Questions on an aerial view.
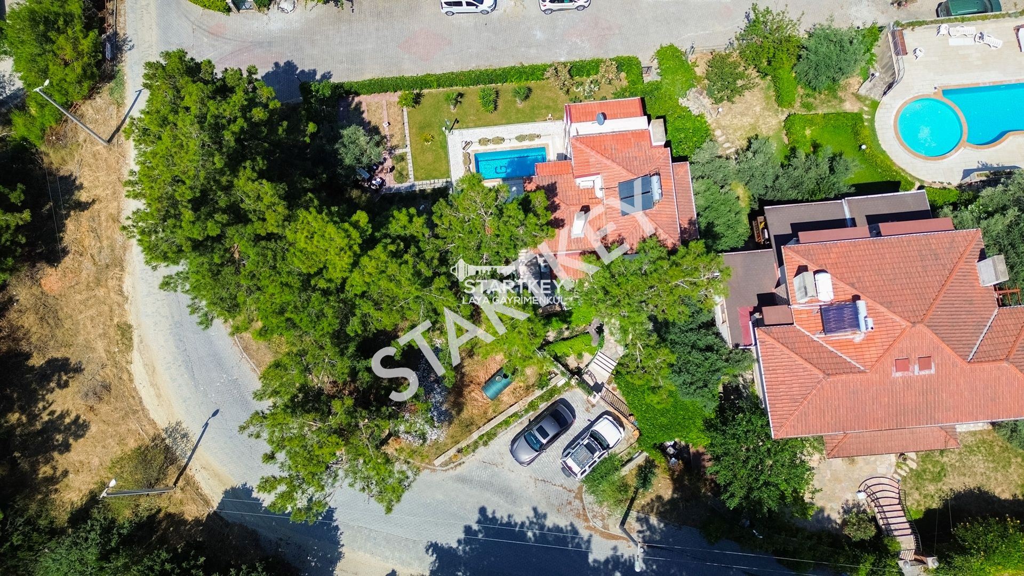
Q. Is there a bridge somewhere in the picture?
No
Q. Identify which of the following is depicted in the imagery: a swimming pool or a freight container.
swimming pool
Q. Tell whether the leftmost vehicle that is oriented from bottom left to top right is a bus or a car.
car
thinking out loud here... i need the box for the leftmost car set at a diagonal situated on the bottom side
[509,396,578,468]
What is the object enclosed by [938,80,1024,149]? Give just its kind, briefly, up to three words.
swimming pool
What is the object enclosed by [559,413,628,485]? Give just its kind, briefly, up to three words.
car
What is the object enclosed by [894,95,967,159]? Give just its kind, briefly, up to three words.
swimming pool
